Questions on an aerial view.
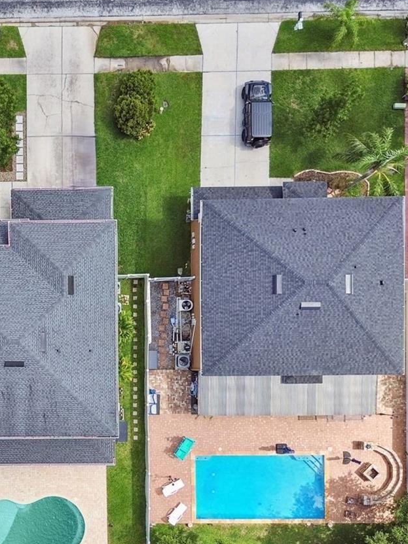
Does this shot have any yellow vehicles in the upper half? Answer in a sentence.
No, in the upper half there is no yellow vehicle.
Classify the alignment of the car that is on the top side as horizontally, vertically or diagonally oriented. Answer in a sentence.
Seen from above, the car that is on the top side lies vertically.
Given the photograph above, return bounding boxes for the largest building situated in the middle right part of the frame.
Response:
[189,180,407,384]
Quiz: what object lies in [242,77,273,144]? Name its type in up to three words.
car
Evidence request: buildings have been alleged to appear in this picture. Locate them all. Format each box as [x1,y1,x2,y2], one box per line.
[189,180,407,384]
[0,185,120,467]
